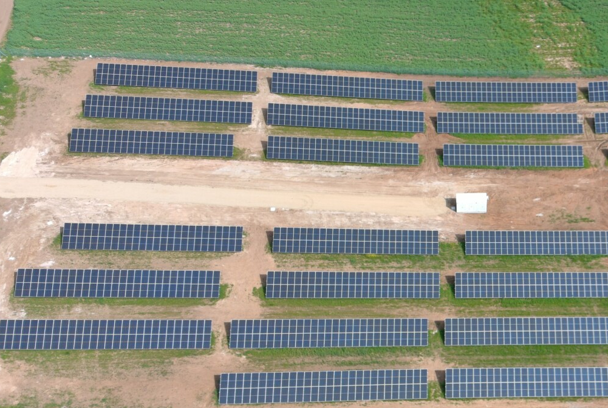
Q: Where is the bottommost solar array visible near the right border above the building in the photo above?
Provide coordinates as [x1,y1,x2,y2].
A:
[443,144,584,166]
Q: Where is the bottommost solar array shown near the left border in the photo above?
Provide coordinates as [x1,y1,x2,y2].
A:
[0,320,213,349]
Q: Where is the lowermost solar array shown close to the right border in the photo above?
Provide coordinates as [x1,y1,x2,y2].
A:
[444,368,608,398]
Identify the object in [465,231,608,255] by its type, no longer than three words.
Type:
solar array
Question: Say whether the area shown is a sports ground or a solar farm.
solar farm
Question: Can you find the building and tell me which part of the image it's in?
right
